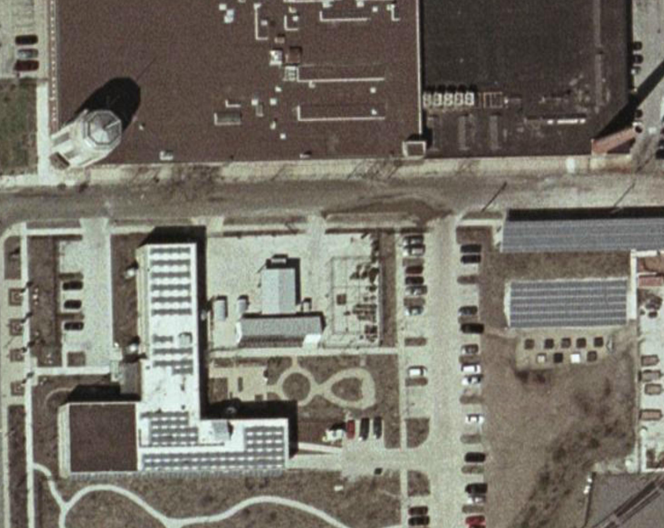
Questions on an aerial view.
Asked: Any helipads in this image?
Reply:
No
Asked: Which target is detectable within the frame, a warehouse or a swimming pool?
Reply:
warehouse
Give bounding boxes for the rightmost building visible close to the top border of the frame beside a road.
[418,0,631,161]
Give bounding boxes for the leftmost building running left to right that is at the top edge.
[45,0,422,172]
